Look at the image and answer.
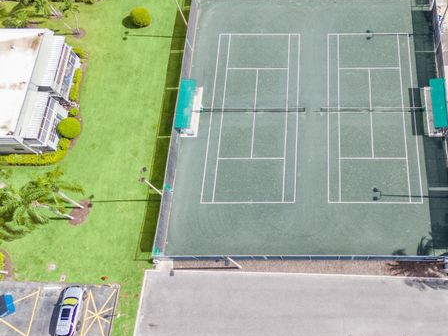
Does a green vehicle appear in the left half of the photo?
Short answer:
No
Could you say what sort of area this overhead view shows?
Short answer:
sports ground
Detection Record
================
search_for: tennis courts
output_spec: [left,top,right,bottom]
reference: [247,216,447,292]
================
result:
[166,0,314,259]
[311,0,448,259]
